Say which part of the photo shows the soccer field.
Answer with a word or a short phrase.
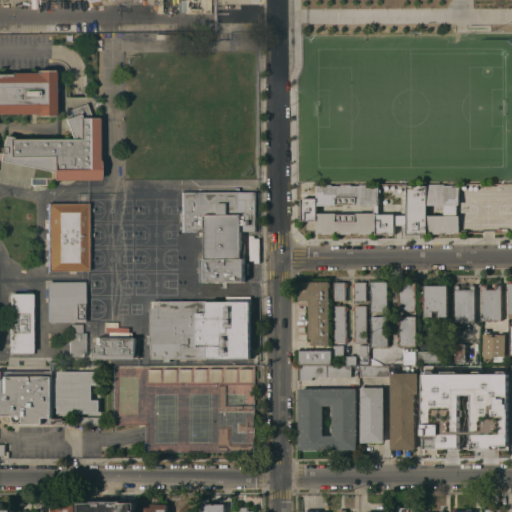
top right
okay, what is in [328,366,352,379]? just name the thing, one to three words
house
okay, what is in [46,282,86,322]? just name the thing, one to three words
building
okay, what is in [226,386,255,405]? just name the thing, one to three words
sports court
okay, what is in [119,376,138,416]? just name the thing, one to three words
sports court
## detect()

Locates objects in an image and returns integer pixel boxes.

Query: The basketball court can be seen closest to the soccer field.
[462,186,512,231]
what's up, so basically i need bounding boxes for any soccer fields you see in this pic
[297,34,512,182]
